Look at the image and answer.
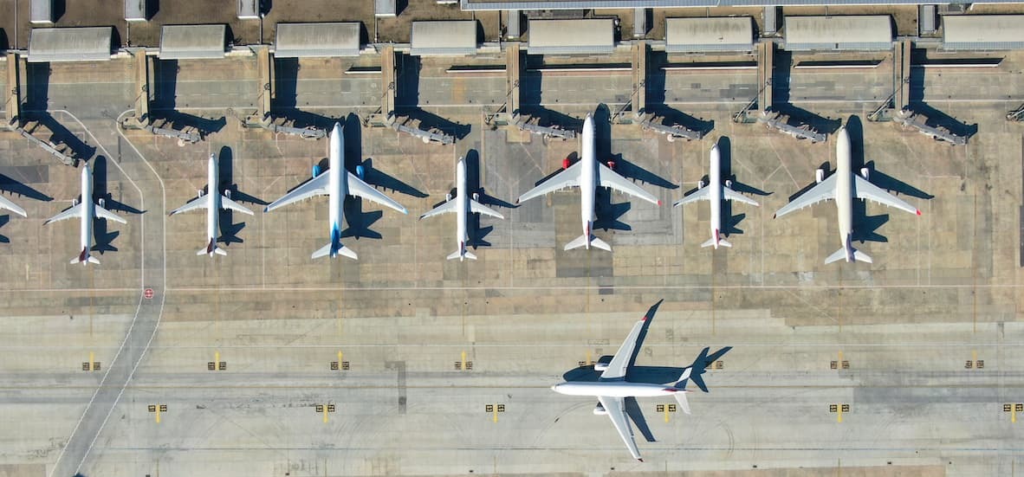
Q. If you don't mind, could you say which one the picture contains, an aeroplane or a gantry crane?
aeroplane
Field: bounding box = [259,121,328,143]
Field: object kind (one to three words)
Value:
jet bridge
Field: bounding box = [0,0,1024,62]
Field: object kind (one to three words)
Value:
building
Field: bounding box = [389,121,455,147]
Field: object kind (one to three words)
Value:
jet bridge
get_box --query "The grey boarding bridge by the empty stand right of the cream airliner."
[897,118,967,148]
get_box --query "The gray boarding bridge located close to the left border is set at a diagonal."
[15,124,79,169]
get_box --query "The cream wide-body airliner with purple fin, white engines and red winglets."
[775,125,919,263]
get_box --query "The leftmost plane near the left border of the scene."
[0,195,29,217]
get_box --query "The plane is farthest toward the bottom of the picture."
[551,318,692,462]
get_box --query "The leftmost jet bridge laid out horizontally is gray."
[141,125,205,147]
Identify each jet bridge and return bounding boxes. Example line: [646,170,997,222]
[763,118,826,146]
[15,124,79,169]
[141,125,205,147]
[897,118,967,148]
[513,120,575,144]
[638,120,702,145]
[389,121,455,147]
[259,121,328,143]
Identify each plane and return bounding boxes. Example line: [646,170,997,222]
[420,157,503,260]
[263,122,407,260]
[517,112,661,250]
[775,125,919,263]
[675,143,758,247]
[169,154,252,257]
[0,195,29,217]
[551,318,692,462]
[42,163,125,266]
